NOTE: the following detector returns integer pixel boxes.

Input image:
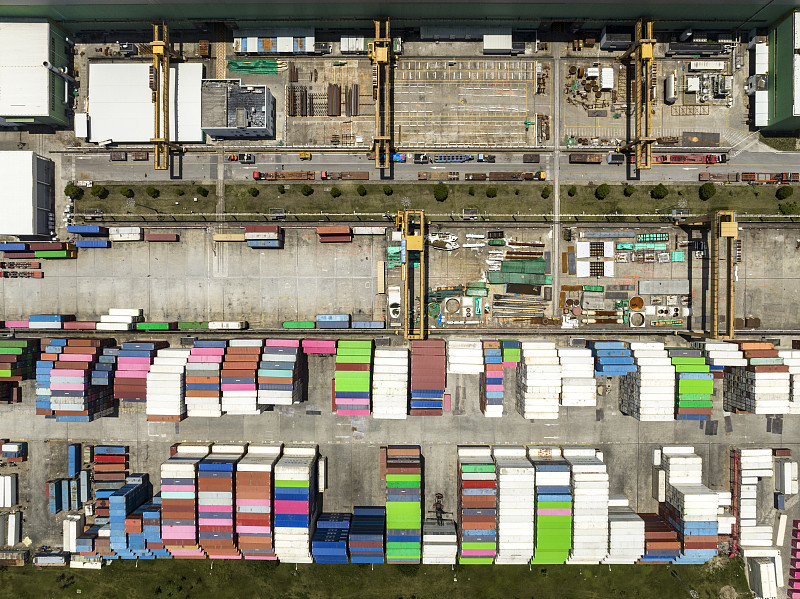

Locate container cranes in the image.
[148,25,187,170]
[388,209,435,340]
[618,24,659,170]
[368,25,398,170]
[673,209,742,340]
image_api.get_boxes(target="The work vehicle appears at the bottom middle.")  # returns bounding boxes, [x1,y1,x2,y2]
[426,491,452,524]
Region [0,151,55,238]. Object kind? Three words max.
building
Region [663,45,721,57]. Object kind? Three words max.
shed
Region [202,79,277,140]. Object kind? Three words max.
building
